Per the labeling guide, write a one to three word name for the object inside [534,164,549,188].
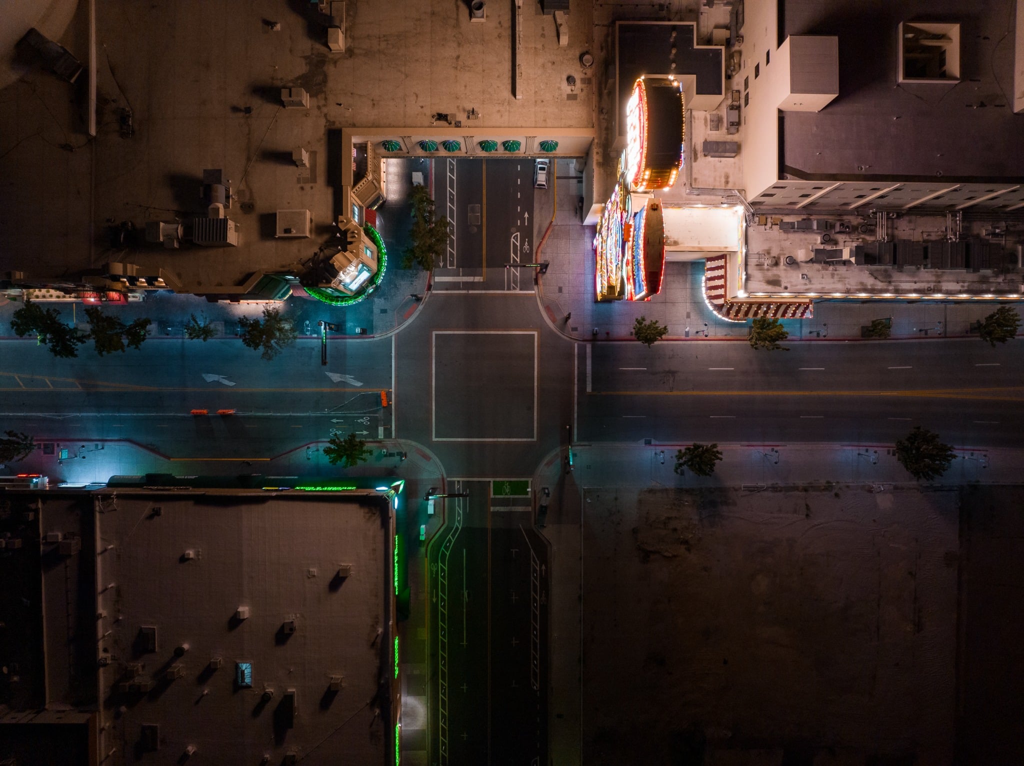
car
